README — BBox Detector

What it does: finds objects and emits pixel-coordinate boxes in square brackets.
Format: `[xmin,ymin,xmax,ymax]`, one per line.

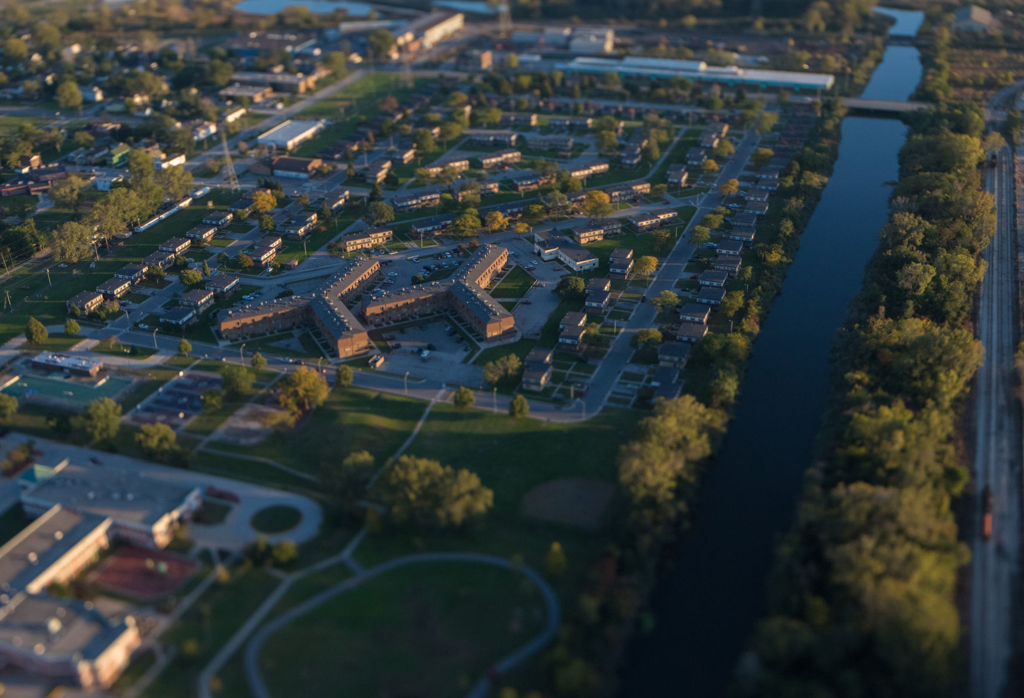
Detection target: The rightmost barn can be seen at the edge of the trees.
[952,6,1000,38]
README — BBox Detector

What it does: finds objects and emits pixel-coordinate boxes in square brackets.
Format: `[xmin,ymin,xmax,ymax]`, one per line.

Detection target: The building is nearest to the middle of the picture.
[520,345,555,393]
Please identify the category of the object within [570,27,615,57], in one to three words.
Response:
shed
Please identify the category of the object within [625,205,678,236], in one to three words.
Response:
house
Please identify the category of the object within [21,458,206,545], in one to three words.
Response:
building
